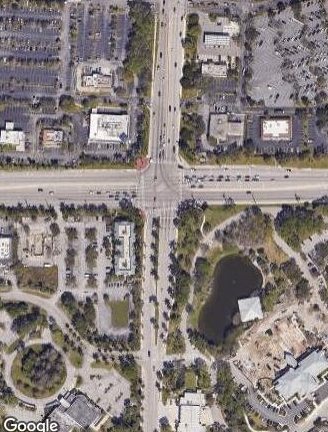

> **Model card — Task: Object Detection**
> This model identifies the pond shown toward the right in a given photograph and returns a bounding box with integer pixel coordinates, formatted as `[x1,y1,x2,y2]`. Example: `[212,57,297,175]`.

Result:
[198,254,263,343]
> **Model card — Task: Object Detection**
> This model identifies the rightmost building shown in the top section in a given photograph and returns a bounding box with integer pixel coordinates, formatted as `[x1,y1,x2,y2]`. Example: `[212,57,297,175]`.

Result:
[260,115,293,141]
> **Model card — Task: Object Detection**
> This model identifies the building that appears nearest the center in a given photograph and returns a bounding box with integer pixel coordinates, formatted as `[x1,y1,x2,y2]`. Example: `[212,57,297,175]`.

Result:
[113,221,135,276]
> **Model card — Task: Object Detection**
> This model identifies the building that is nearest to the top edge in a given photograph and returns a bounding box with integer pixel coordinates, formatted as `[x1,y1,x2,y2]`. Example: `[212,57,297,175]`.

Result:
[202,63,227,77]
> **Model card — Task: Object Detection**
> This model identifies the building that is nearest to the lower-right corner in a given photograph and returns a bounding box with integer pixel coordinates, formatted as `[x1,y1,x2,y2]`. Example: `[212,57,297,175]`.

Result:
[271,344,328,404]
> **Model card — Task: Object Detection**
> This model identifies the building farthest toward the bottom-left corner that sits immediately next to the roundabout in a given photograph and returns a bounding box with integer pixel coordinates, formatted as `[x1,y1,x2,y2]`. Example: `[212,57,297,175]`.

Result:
[45,390,102,432]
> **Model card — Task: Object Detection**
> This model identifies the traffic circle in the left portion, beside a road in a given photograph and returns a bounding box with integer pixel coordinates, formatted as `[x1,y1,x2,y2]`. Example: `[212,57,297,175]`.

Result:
[4,335,73,404]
